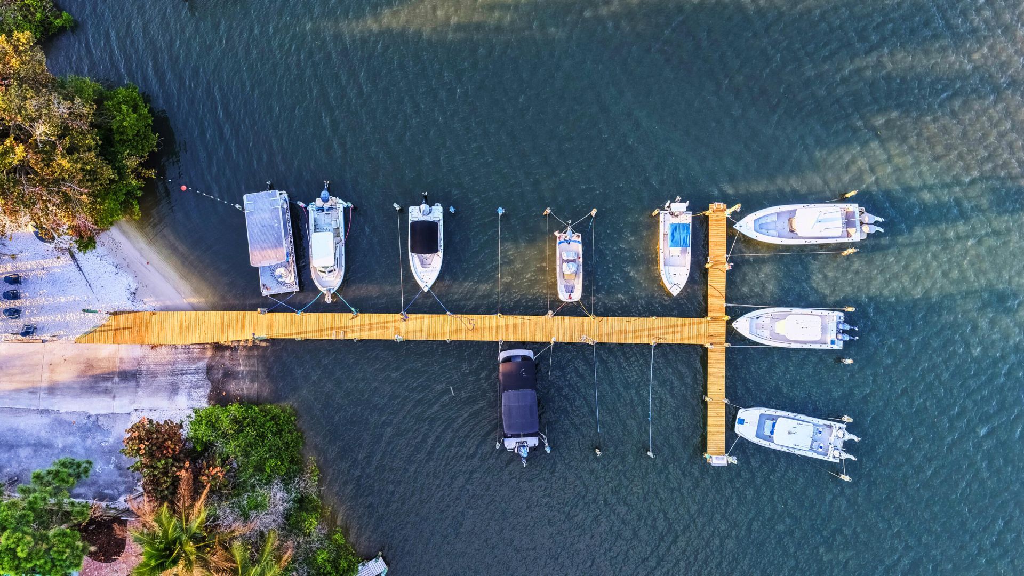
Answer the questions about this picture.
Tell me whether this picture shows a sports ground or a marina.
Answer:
marina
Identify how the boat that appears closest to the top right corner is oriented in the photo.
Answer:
from side to side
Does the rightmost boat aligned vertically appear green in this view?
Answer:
No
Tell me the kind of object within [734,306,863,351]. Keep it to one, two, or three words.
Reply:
boat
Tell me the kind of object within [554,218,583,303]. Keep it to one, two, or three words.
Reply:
boat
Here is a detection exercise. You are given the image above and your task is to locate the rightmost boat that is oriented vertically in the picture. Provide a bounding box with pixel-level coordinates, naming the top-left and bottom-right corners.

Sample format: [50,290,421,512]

[658,193,692,296]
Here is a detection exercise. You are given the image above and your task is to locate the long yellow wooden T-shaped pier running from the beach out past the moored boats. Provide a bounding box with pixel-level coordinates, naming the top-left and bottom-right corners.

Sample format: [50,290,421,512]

[73,199,741,465]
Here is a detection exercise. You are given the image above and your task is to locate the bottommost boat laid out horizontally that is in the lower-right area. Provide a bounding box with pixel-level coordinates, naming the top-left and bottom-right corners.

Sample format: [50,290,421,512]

[735,407,865,463]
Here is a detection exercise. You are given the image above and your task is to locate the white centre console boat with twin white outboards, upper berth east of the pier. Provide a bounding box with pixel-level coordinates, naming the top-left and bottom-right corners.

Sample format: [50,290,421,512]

[734,204,889,245]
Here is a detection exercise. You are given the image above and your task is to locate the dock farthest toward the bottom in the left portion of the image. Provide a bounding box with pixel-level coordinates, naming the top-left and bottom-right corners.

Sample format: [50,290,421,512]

[357,547,392,576]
